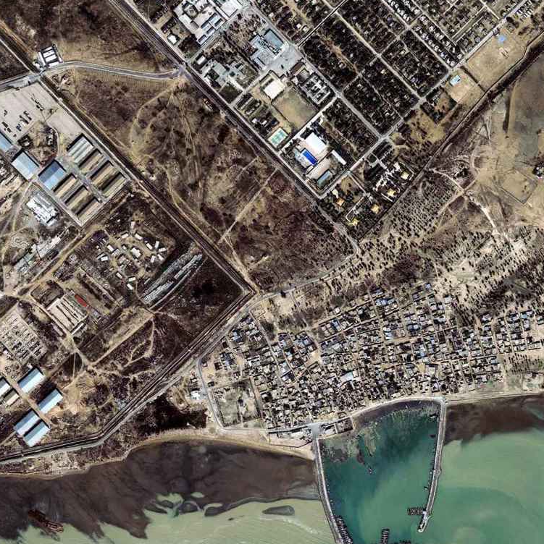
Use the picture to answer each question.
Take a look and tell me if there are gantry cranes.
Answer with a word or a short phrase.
No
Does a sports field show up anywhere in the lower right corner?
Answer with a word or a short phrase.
No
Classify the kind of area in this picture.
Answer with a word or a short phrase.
residential area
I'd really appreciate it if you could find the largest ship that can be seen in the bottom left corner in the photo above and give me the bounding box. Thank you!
[27,511,63,530]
